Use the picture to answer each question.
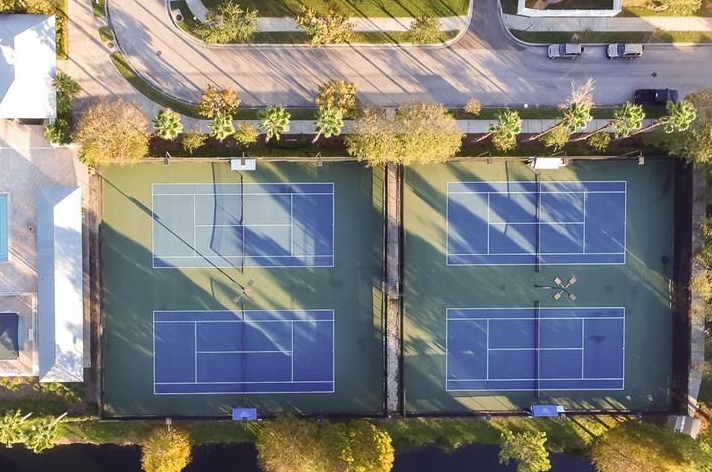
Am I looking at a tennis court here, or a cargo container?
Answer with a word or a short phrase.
tennis court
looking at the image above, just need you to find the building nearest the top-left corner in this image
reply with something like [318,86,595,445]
[0,14,57,120]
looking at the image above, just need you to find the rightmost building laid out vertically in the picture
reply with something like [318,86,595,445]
[36,186,84,382]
